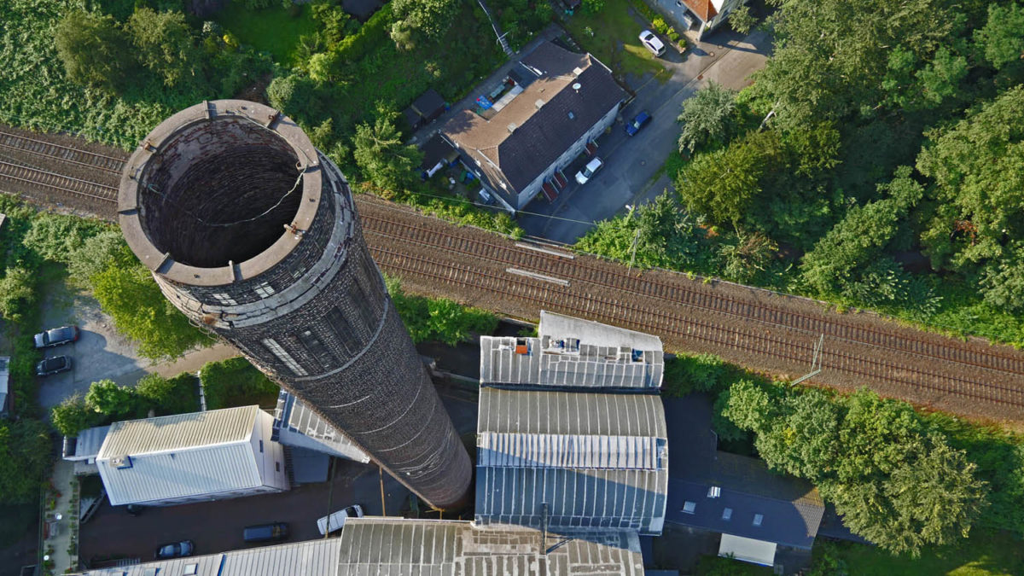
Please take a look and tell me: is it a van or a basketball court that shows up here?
van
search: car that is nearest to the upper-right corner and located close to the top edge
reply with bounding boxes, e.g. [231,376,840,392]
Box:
[640,26,671,57]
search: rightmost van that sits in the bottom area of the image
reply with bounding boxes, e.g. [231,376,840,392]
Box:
[311,500,366,536]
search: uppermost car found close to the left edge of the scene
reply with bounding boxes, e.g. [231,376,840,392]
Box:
[33,321,78,349]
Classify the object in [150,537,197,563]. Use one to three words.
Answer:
car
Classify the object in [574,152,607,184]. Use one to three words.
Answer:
car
